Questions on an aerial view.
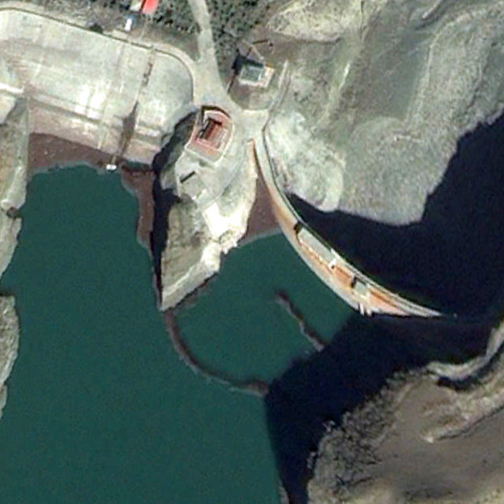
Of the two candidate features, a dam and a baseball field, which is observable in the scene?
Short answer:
dam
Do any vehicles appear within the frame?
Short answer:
No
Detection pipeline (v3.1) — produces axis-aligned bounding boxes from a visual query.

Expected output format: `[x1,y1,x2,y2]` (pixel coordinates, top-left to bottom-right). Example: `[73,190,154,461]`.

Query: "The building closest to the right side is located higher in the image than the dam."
[240,66,264,82]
